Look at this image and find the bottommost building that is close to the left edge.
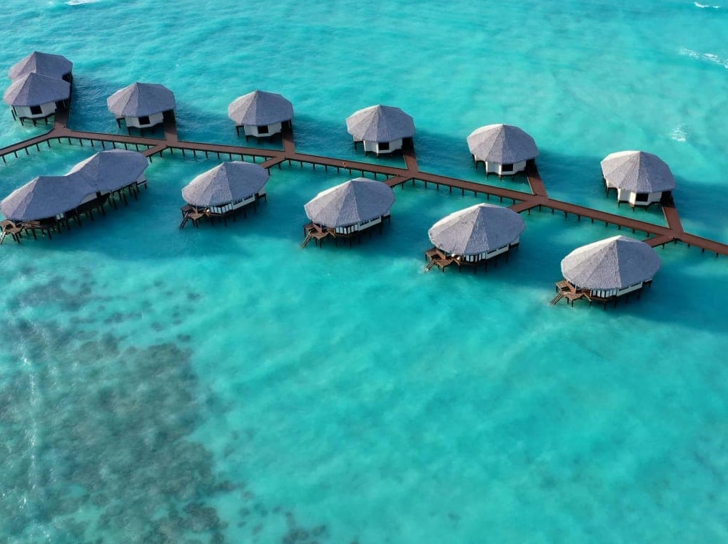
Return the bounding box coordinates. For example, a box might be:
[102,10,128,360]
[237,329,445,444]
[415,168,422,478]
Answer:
[0,146,149,250]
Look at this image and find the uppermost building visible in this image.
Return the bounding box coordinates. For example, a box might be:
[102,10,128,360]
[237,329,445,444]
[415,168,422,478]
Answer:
[12,48,80,97]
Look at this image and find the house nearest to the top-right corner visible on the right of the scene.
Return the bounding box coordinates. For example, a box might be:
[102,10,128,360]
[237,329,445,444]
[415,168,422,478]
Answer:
[601,149,678,215]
